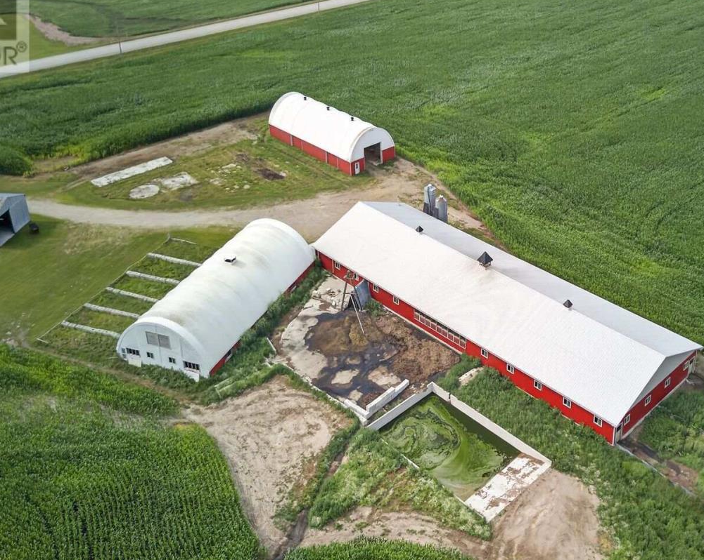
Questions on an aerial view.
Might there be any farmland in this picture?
Yes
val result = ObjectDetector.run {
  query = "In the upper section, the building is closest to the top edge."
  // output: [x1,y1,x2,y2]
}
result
[268,91,395,175]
